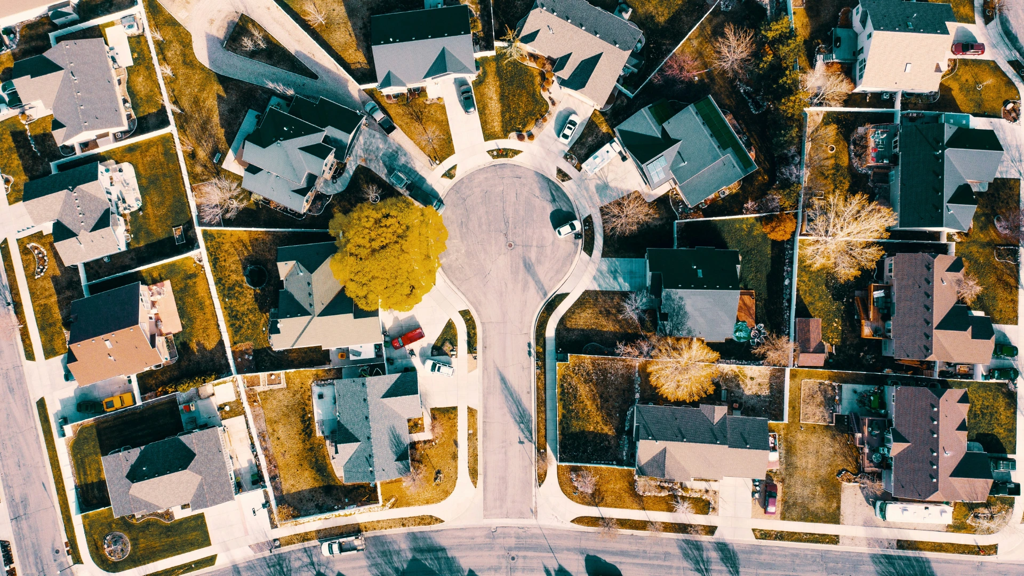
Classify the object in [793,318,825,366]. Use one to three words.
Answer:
shed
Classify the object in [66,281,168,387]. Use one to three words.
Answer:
house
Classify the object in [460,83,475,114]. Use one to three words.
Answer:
car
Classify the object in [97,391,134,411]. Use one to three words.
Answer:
vehicle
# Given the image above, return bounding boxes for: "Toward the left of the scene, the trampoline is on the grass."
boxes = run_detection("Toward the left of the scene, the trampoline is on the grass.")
[239,263,268,289]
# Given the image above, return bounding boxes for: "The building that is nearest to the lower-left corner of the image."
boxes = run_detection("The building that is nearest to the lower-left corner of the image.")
[101,426,238,518]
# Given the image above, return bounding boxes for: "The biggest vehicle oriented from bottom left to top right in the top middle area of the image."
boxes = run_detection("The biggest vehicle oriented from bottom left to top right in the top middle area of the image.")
[586,139,625,172]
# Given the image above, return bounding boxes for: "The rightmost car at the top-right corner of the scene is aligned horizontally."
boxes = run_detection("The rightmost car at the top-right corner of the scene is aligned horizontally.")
[954,40,987,55]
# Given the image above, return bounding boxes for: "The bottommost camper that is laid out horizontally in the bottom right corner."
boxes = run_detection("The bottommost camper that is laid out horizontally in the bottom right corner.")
[877,504,962,526]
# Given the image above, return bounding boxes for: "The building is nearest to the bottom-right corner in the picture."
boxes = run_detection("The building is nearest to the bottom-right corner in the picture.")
[885,384,994,502]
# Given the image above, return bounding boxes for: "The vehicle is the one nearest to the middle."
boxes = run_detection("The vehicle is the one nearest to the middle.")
[555,220,582,239]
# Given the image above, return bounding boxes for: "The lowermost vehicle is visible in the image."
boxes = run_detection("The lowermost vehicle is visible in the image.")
[321,538,364,557]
